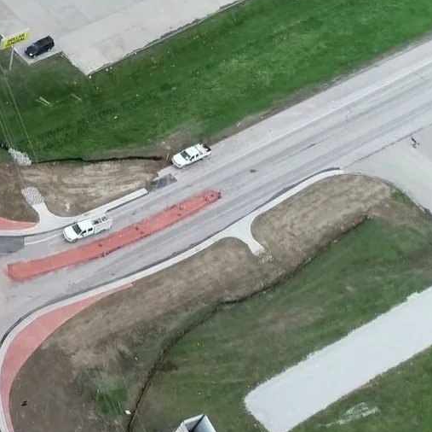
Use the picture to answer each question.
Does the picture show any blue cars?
No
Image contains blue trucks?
No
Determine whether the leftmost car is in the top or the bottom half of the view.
top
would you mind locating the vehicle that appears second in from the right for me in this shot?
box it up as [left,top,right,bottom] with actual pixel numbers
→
[63,211,115,239]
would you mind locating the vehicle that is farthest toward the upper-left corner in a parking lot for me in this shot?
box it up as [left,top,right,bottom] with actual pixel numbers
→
[22,33,56,59]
